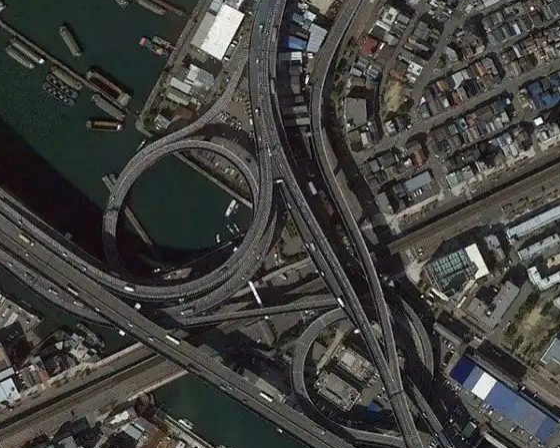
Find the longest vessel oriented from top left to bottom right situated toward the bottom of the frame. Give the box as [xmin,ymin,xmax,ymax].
[75,319,103,349]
